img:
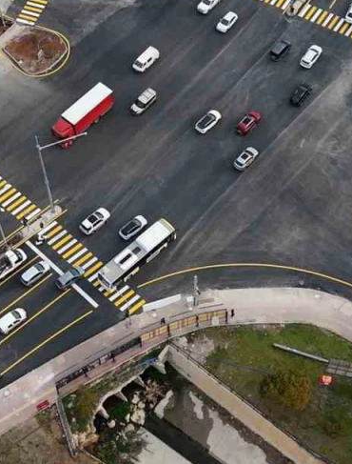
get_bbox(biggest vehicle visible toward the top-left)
[48,82,115,146]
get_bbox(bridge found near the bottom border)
[63,341,175,454]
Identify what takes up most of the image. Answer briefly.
paved ground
